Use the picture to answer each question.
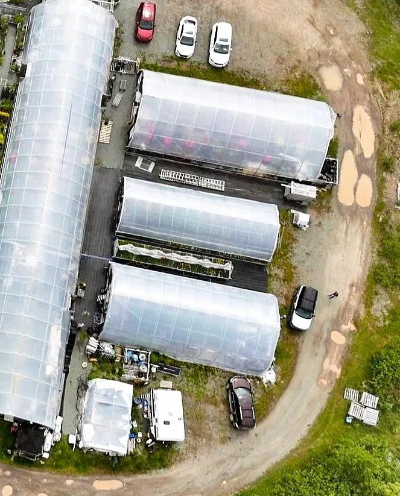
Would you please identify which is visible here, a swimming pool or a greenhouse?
greenhouse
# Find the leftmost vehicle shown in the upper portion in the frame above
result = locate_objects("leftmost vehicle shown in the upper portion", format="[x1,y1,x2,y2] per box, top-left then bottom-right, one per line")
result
[137,0,159,42]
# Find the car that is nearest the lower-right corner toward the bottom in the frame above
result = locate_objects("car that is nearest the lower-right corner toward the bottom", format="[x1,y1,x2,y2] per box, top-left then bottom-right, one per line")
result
[229,375,260,430]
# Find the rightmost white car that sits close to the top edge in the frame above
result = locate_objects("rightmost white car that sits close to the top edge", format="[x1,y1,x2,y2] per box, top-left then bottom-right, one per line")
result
[210,18,235,66]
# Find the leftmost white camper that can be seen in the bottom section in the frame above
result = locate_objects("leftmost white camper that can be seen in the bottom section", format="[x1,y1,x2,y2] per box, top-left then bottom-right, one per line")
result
[147,391,184,452]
